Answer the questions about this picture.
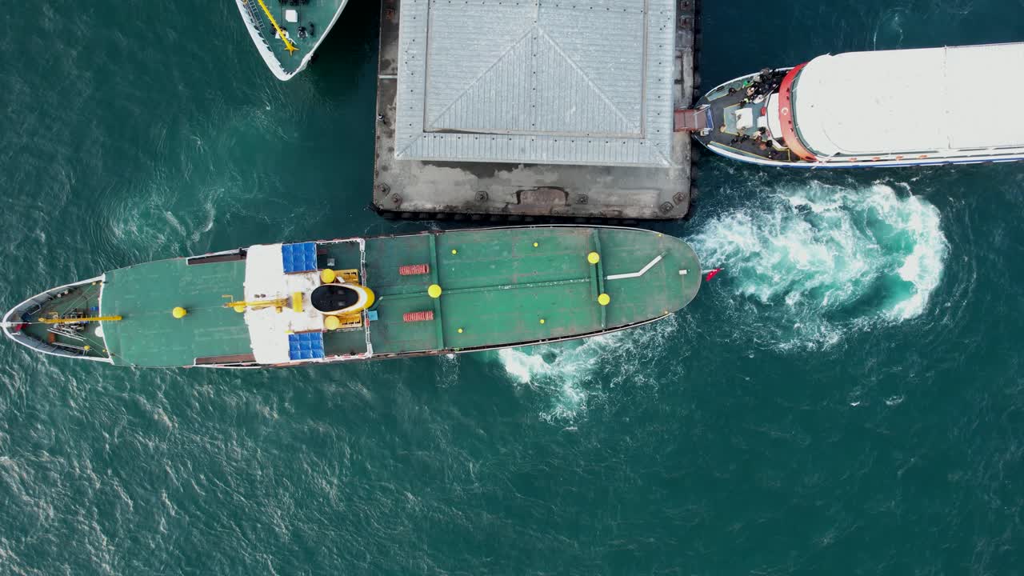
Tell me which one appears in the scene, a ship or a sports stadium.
ship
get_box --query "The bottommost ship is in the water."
[0,224,724,370]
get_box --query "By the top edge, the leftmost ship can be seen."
[235,0,353,82]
